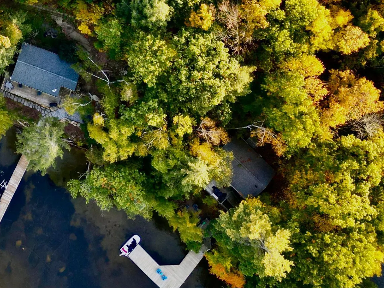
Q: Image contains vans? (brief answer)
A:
No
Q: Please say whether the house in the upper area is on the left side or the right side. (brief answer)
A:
left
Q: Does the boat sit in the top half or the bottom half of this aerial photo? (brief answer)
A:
bottom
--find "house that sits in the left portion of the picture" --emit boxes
[1,41,81,108]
